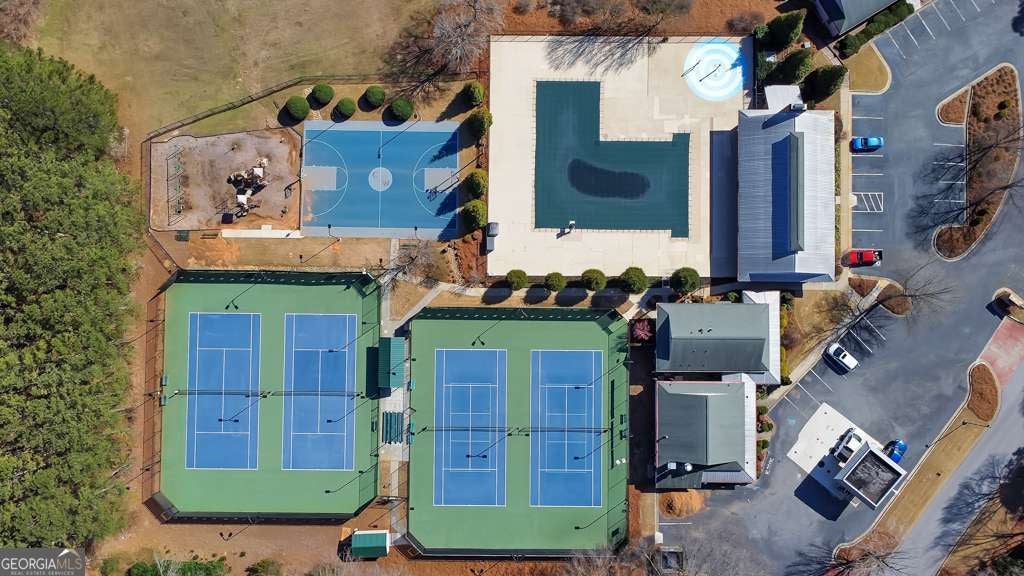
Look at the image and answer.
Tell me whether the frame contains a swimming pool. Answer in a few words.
Yes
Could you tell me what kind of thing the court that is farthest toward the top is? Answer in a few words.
basketball court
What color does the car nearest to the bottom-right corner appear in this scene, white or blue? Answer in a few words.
blue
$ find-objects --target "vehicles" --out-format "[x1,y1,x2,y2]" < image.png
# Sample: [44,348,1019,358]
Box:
[885,437,908,464]
[838,431,865,463]
[851,134,885,149]
[848,250,885,265]
[827,343,861,371]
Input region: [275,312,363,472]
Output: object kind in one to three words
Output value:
tennis court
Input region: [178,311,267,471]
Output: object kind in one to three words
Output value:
tennis court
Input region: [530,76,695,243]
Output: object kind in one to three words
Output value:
swimming pool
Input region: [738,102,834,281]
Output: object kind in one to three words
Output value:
building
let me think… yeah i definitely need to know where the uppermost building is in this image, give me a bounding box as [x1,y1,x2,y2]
[806,0,900,40]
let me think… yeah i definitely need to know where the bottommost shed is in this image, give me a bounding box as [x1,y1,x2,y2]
[351,528,391,557]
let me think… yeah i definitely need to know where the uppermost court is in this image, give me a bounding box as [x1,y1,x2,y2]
[302,121,460,239]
